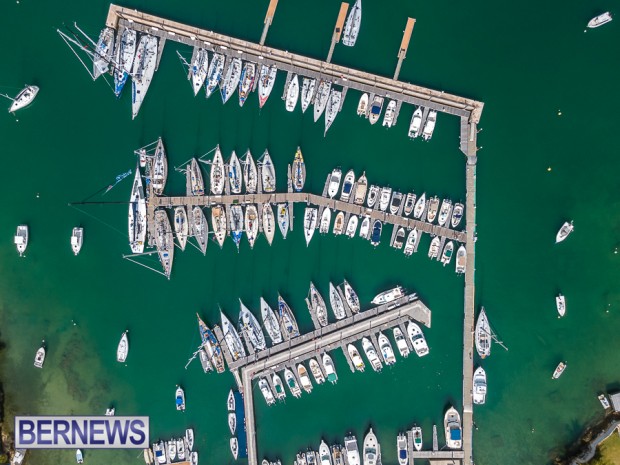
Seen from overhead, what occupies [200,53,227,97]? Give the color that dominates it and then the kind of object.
white boat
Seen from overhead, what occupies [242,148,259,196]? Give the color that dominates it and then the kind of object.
white boat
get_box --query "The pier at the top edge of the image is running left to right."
[105,4,484,124]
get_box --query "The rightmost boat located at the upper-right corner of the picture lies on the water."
[586,12,612,30]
